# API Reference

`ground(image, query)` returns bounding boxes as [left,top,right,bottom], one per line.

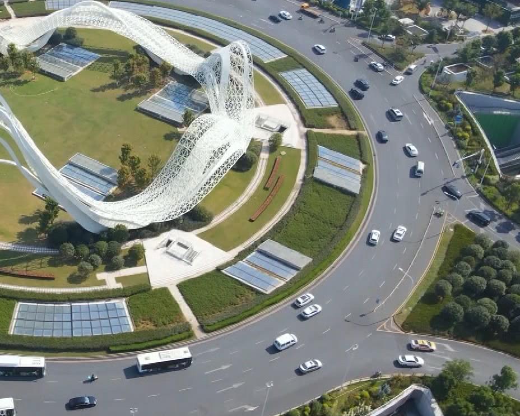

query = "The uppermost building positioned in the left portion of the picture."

[37,42,100,83]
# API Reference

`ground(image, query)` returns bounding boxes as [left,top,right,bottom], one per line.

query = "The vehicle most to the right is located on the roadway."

[466,210,492,225]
